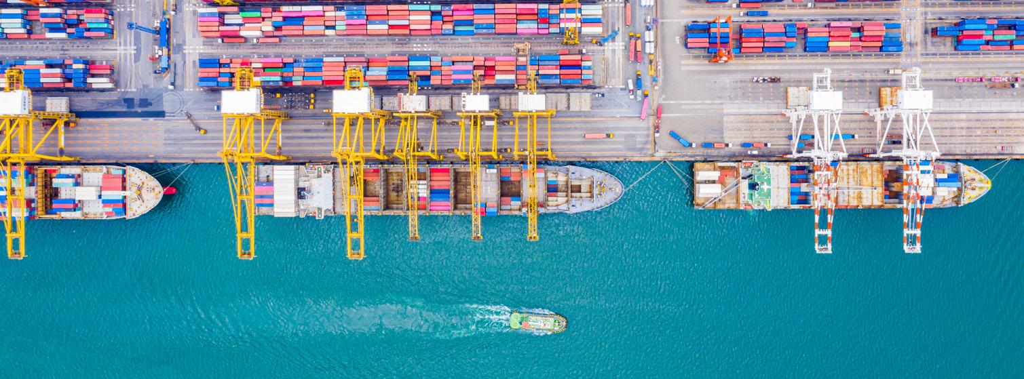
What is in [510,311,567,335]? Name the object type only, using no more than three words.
boat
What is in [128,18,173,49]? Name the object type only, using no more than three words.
crane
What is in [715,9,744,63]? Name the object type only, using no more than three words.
container crane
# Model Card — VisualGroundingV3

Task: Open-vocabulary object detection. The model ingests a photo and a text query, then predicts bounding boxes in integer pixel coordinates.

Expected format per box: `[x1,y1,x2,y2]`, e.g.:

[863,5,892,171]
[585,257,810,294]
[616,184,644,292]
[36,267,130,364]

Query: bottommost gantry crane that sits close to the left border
[0,65,80,259]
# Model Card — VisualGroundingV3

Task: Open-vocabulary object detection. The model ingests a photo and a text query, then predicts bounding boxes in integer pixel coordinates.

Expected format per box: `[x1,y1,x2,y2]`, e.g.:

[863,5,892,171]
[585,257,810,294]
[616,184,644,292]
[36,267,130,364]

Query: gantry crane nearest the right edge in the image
[855,68,943,253]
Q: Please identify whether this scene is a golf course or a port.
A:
port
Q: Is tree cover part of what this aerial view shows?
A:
No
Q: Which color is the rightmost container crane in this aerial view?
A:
white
